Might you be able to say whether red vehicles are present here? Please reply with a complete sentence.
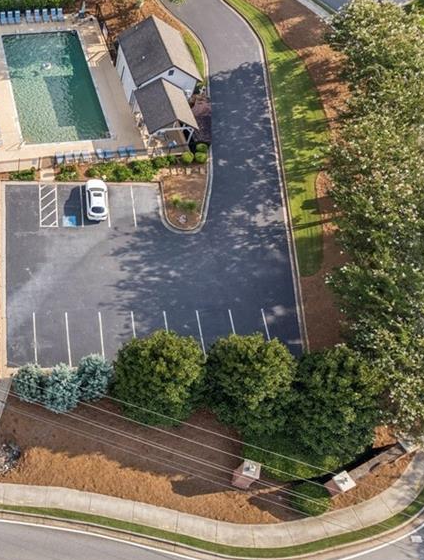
No, no red vehicle can be seen from above.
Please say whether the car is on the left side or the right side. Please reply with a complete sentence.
The car appears in the left half of the scene.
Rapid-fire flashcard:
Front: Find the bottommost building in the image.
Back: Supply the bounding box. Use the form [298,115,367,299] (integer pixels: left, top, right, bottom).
[135,74,199,146]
